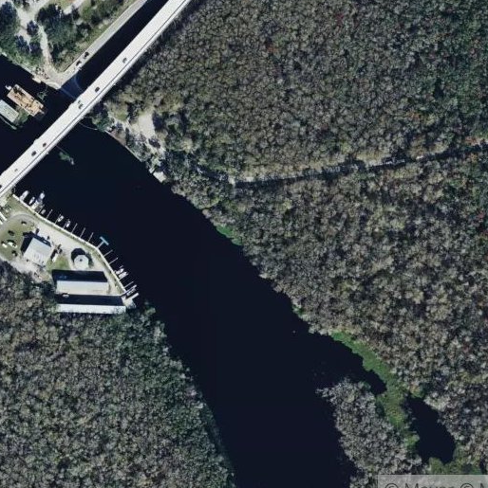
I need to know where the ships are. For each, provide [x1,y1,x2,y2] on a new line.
[0,100,19,122]
[9,86,43,117]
